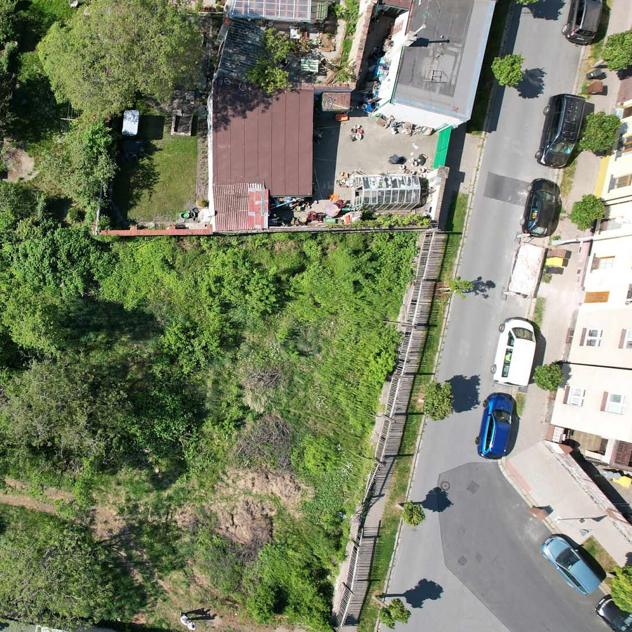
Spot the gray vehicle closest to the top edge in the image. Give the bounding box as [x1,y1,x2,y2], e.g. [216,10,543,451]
[557,0,605,48]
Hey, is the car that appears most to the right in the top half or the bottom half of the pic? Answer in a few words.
bottom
